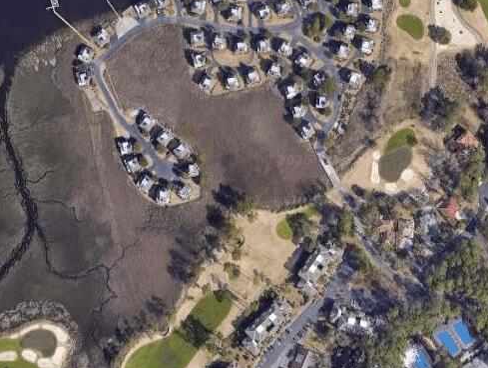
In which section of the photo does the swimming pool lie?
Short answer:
bottom right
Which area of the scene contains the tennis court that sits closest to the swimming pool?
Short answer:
bottom right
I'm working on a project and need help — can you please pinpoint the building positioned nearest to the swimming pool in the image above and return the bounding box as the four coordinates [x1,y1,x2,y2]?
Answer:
[331,307,378,334]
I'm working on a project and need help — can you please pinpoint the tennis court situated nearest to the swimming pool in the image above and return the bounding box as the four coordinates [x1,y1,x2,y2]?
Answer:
[433,324,463,358]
